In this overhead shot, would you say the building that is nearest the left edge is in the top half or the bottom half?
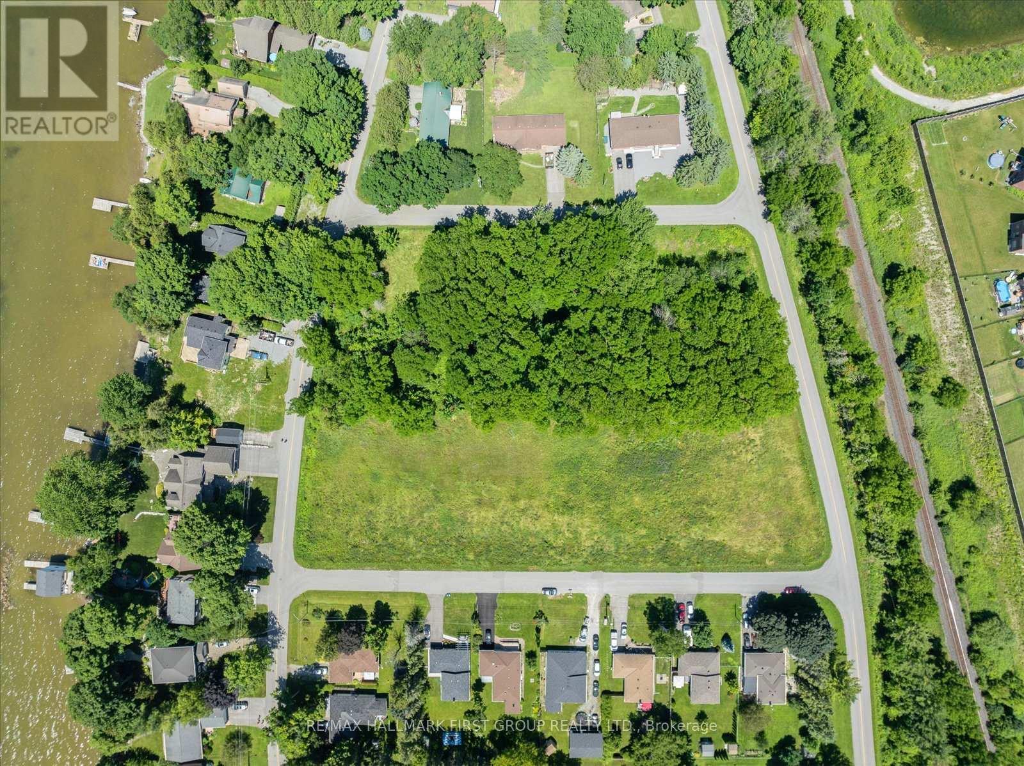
bottom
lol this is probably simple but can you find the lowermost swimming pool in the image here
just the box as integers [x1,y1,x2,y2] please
[996,279,1011,303]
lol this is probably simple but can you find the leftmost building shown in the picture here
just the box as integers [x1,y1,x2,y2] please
[36,570,66,598]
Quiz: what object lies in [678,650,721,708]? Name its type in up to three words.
house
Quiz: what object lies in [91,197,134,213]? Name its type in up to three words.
pier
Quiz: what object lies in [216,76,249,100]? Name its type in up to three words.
building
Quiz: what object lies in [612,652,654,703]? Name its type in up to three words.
house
